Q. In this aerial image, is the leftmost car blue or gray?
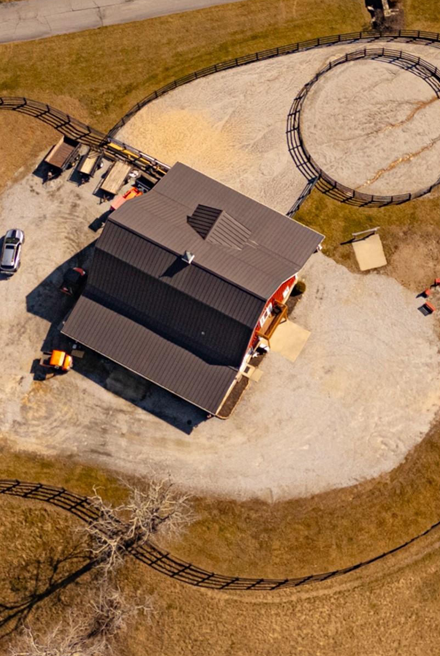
gray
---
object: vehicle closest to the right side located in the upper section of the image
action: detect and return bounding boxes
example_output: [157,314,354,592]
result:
[114,183,151,210]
